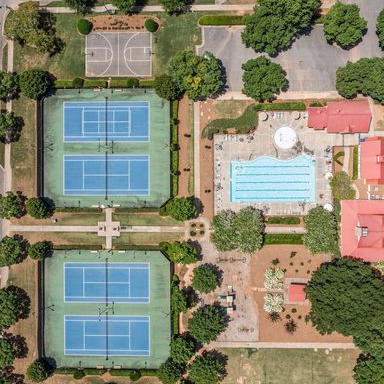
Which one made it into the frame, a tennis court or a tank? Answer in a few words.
tennis court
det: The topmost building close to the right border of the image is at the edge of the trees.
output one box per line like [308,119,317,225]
[306,101,371,135]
